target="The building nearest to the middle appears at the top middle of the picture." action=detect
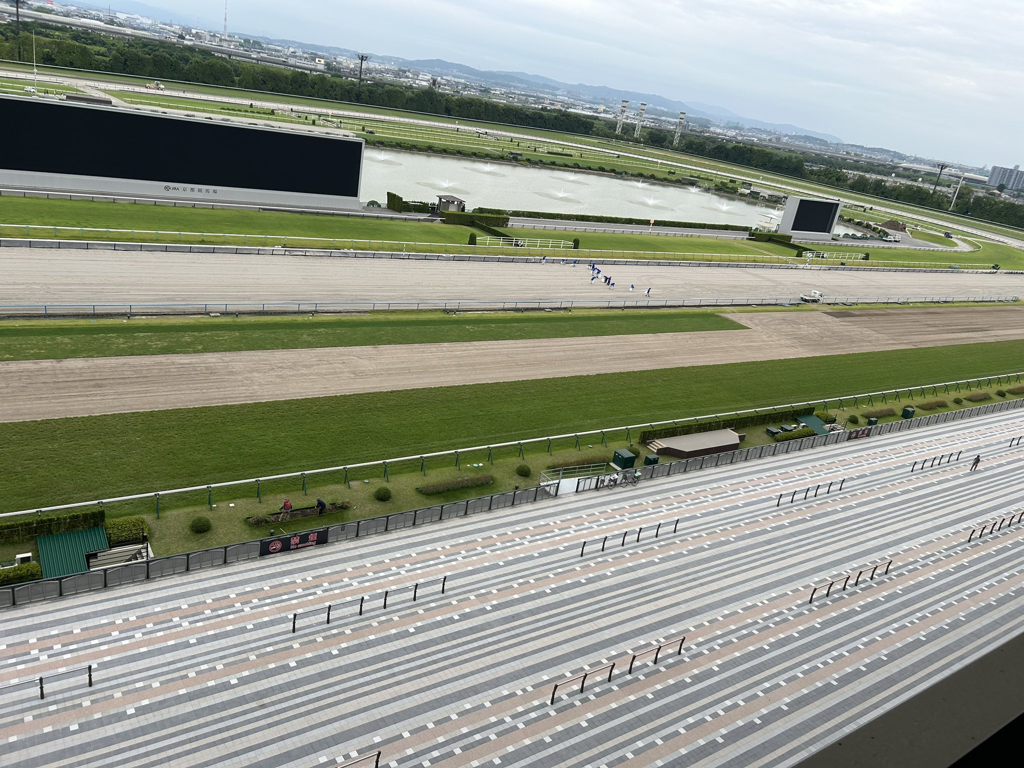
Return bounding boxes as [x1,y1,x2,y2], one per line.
[432,191,472,209]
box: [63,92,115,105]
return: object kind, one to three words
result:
shed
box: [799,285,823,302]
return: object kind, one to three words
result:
vehicle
